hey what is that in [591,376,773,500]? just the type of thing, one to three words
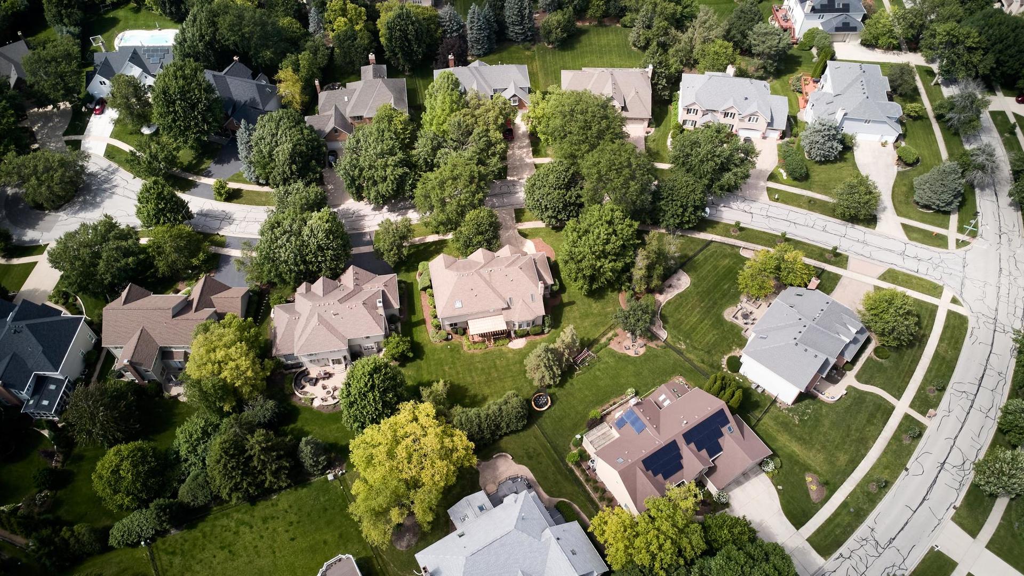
house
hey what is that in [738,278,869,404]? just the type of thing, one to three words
house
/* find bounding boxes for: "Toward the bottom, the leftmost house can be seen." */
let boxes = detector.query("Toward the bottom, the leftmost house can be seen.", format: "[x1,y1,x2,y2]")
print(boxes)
[0,293,96,423]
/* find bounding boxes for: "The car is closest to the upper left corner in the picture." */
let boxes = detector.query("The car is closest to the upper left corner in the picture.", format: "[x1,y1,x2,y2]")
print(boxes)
[86,98,106,114]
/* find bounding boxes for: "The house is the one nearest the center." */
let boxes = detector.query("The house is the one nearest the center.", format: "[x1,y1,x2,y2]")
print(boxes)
[428,240,556,333]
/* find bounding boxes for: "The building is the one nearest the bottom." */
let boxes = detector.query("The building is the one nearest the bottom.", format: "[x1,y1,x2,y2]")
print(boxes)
[415,488,615,576]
